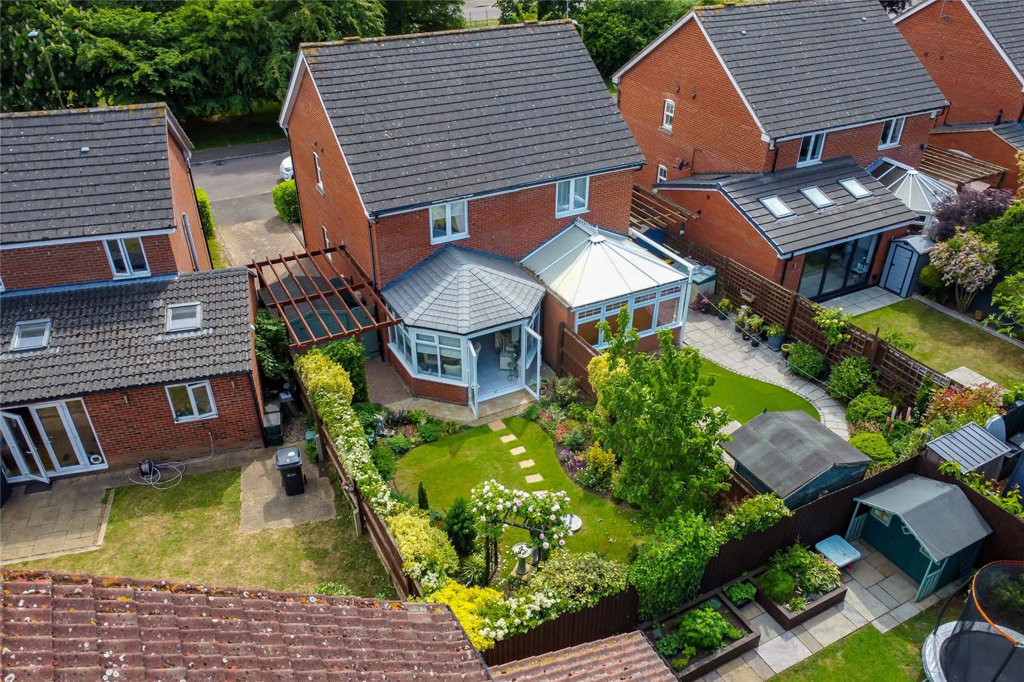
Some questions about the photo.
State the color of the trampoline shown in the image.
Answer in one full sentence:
The color of the trampoline is black.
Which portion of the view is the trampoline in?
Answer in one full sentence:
The trampoline is in the bottom right part of the image.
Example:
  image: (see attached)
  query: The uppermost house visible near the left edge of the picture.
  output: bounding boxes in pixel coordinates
[0,100,264,493]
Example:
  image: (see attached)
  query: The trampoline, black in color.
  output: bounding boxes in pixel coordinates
[917,565,1024,682]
